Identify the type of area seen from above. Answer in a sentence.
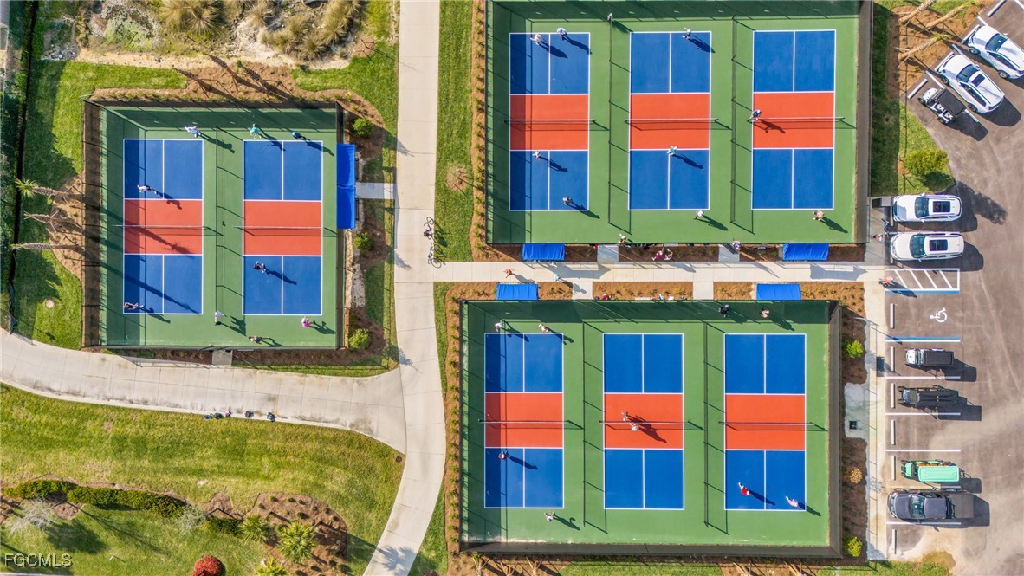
What you see here is a sports ground.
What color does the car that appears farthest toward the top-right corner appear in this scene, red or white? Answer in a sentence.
From above, the car that appears farthest toward the top-right corner appears white.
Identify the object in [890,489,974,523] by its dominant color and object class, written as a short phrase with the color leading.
gray truck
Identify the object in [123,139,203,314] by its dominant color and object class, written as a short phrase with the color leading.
blue sports court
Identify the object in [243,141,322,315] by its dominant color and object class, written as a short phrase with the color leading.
blue sports court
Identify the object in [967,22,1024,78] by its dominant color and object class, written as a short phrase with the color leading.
white car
